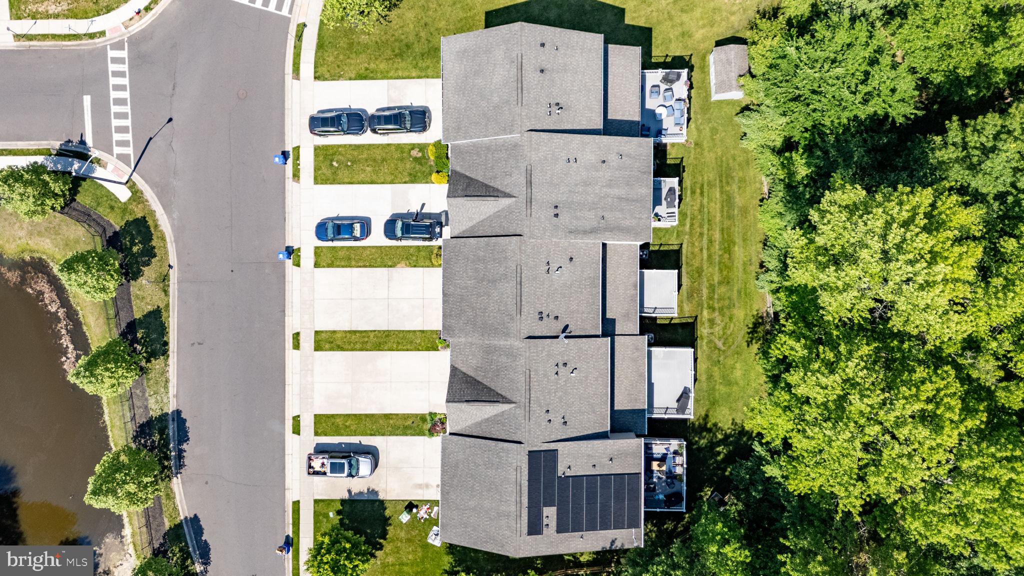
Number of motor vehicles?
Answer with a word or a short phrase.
5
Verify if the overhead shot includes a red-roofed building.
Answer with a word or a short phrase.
No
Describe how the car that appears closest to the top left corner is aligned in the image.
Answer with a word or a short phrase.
from left to right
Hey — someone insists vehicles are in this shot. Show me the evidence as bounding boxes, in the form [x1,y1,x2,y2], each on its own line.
[308,108,370,139]
[314,217,371,245]
[306,450,377,481]
[380,206,446,245]
[369,105,430,136]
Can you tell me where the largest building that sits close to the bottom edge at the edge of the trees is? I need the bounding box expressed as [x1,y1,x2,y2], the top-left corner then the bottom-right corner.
[439,432,644,556]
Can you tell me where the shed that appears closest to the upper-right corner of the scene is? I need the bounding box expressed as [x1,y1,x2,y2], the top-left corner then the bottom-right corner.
[709,45,748,101]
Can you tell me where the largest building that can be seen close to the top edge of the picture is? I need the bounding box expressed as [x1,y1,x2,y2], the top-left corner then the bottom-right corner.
[440,23,642,146]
